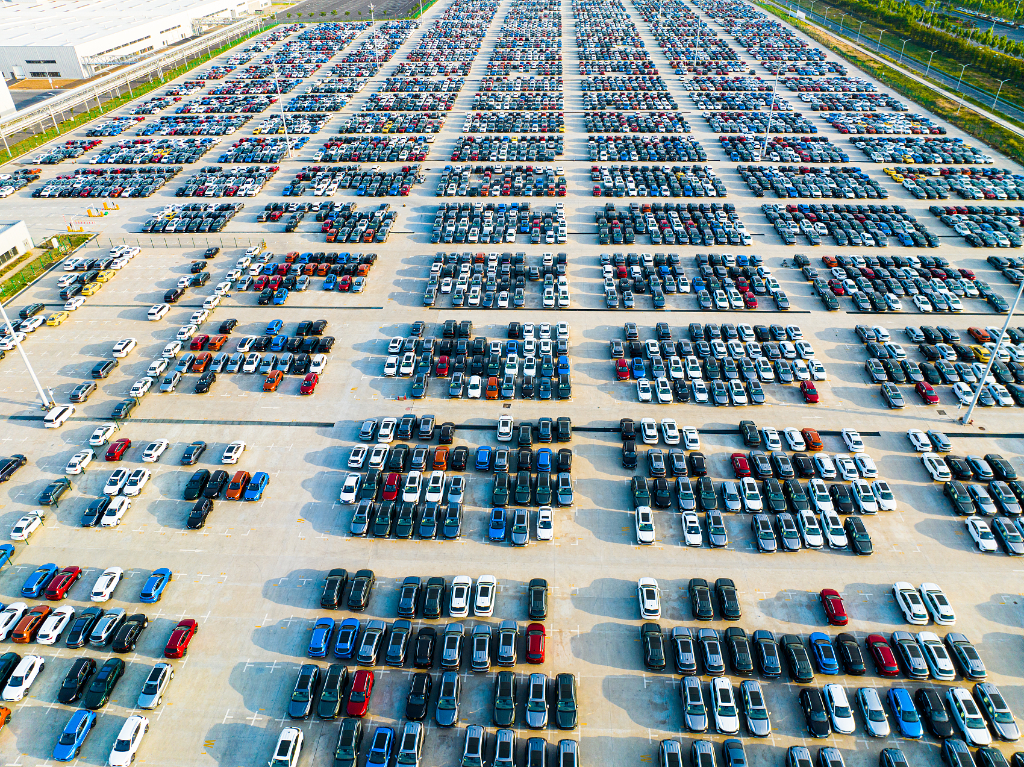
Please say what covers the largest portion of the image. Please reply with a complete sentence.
For the most part, this view shows paved ground.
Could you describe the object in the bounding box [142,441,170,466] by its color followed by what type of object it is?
white car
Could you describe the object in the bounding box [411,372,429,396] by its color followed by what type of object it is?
blue car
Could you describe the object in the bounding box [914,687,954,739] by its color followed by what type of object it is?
black car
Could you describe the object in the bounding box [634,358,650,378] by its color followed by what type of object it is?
blue car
